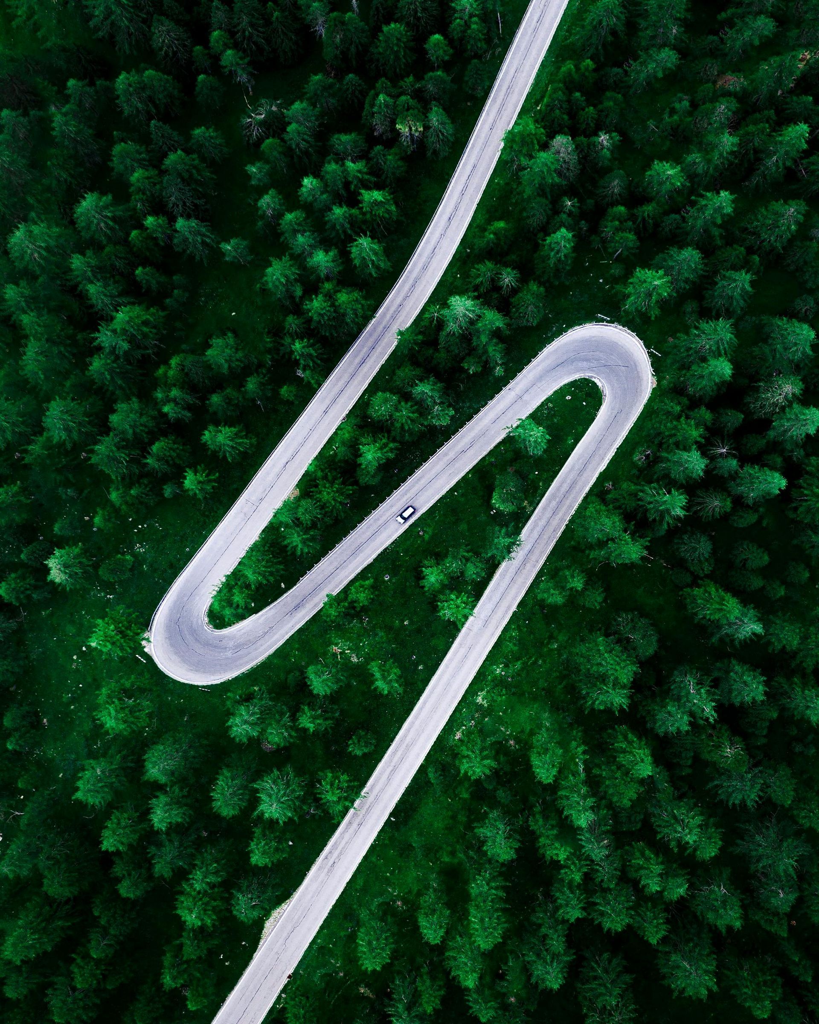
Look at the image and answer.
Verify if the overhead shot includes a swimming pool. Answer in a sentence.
No, I can't see a single swimming pool in this photo.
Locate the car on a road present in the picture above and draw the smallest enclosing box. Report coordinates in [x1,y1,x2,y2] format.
[398,504,416,522]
